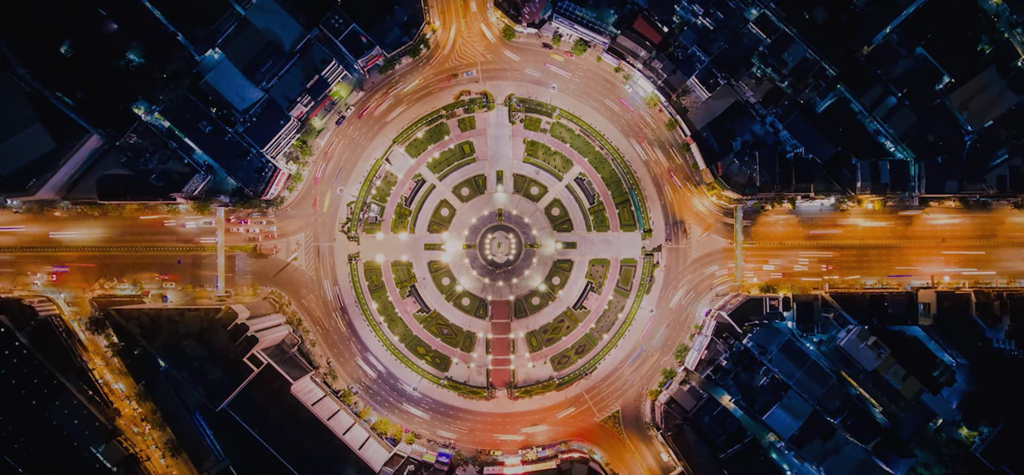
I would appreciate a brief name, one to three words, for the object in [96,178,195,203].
building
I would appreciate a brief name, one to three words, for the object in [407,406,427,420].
vehicle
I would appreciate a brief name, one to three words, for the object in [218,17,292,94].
building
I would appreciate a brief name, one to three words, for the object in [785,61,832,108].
house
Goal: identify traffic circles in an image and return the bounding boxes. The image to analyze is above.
[286,32,714,449]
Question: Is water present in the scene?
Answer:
No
